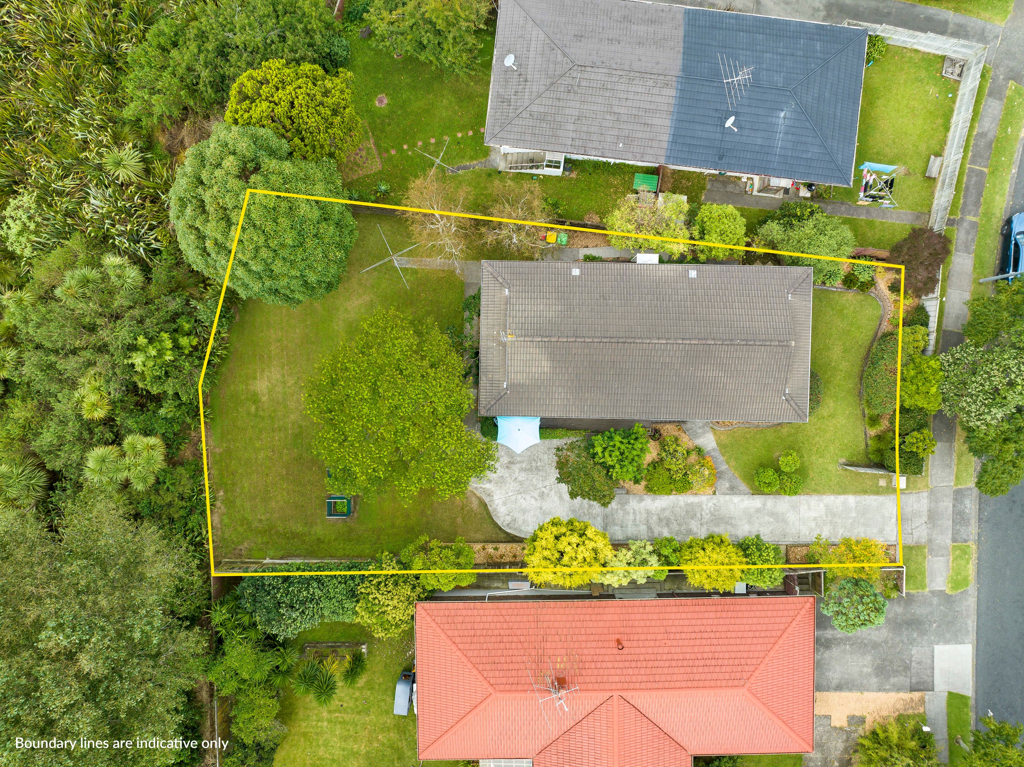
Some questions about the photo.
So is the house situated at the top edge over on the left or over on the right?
right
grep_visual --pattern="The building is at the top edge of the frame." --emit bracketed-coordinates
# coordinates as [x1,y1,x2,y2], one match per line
[481,0,871,192]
